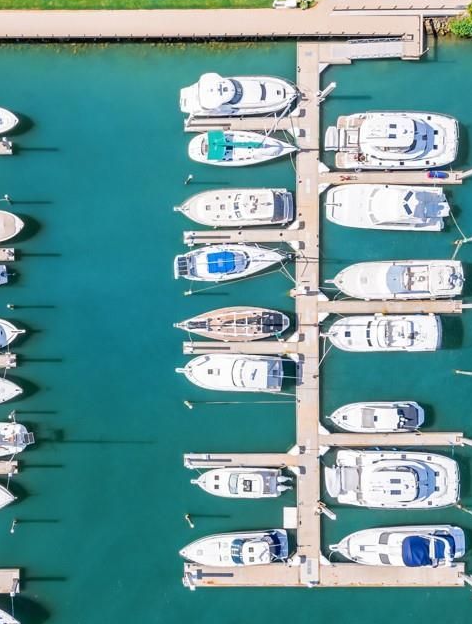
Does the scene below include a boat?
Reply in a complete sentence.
Yes, a boat is visible in the scene.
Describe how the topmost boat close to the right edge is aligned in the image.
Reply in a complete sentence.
The topmost boat close to the right edge has been laid out from left to right relative to the frame.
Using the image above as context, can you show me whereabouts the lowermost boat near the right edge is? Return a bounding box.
[328,523,464,565]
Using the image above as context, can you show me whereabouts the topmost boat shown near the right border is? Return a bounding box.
[327,111,459,172]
